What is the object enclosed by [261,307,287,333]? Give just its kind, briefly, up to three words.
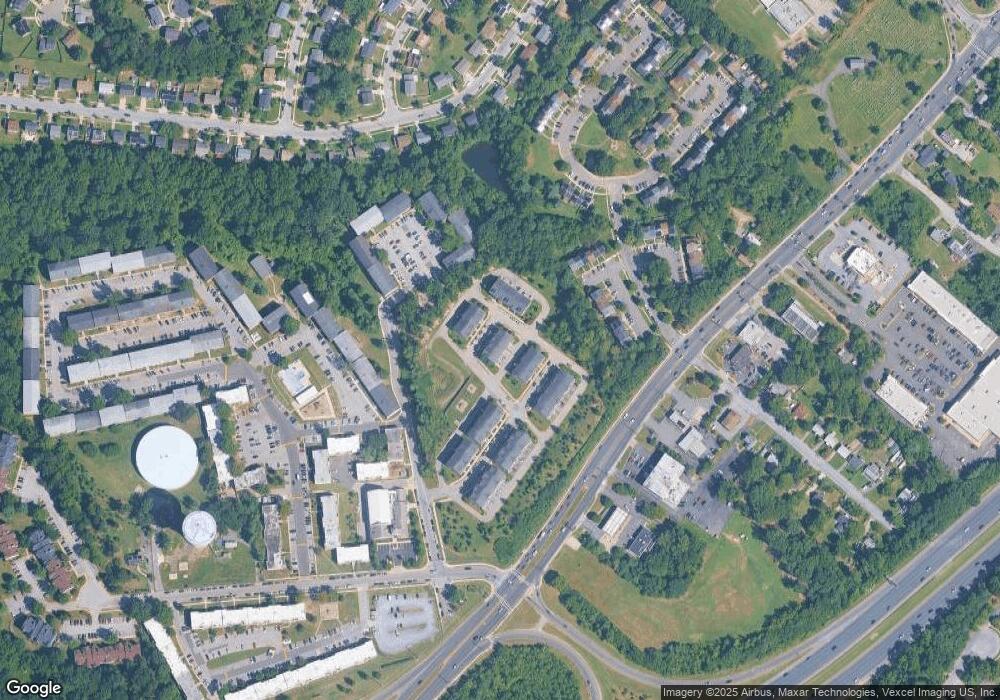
building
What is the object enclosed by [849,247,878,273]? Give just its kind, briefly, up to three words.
building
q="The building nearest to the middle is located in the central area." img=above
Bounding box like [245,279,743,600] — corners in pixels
[479,328,517,367]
